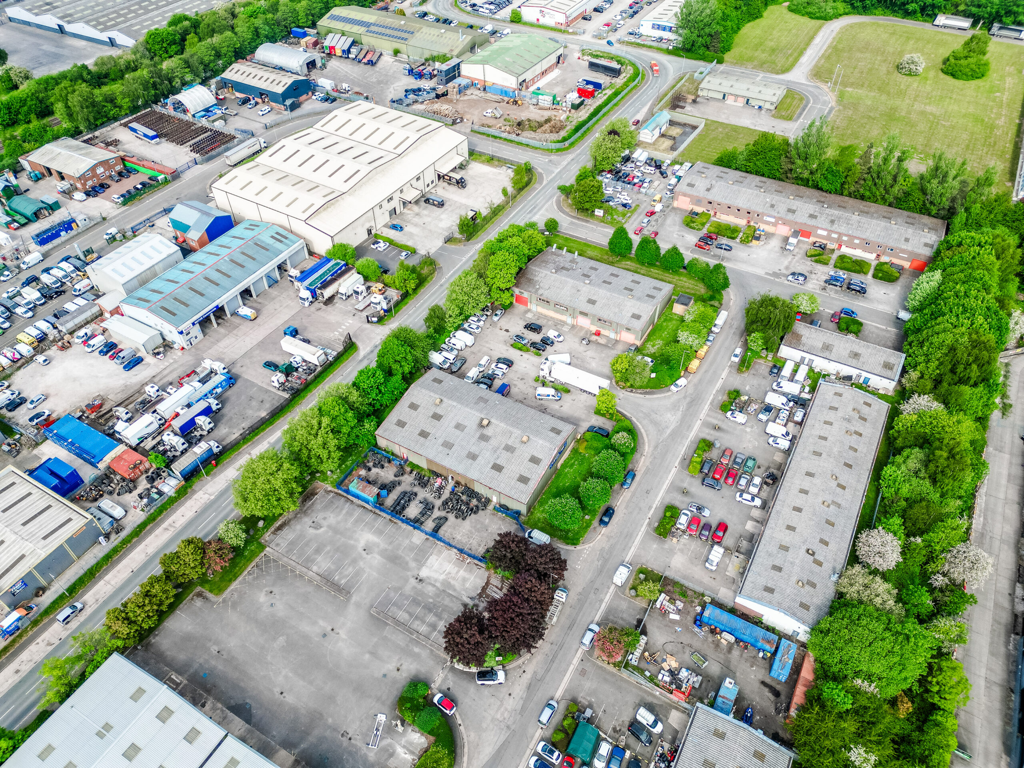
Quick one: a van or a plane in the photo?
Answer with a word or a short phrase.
van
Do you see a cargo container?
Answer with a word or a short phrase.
Yes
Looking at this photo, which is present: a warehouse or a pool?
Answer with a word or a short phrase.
warehouse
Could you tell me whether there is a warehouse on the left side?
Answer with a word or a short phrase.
Yes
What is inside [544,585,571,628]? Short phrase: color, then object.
white truck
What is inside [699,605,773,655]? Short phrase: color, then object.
blue shipping container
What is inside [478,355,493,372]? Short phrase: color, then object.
white car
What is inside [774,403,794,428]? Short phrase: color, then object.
white vehicle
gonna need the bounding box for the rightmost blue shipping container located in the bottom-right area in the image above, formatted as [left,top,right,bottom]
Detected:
[765,636,794,689]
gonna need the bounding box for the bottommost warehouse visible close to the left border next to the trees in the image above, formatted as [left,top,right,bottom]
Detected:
[0,649,285,768]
